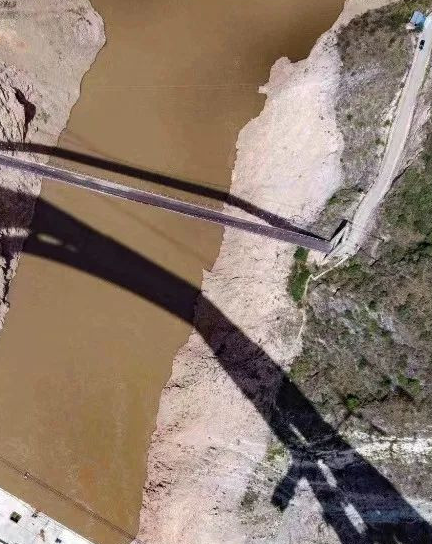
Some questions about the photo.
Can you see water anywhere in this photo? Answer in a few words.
Yes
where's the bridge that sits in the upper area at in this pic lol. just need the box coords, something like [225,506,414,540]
[0,148,345,261]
